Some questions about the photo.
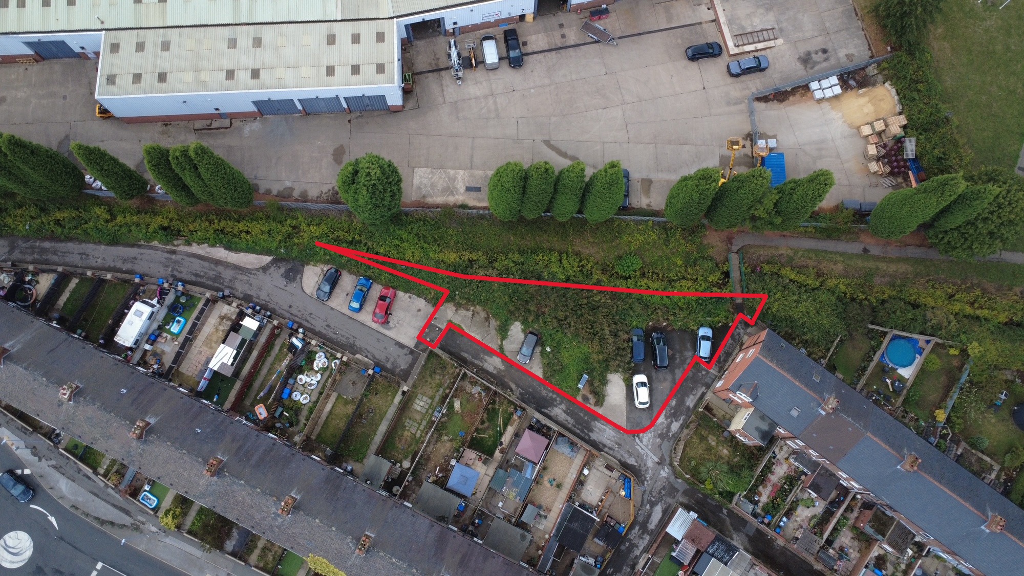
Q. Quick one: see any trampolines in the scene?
Yes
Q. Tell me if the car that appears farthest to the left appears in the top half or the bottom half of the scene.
bottom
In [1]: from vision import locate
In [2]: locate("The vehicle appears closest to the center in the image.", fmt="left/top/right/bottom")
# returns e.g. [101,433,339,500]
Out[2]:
[516,329,540,365]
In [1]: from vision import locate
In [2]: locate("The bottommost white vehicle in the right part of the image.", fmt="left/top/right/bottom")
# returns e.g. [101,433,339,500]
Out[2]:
[632,374,651,408]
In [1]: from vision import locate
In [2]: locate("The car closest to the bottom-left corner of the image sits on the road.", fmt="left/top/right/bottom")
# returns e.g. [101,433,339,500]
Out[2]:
[0,467,35,503]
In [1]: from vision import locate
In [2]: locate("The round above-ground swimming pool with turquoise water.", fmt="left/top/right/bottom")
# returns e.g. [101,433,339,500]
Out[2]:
[879,335,917,370]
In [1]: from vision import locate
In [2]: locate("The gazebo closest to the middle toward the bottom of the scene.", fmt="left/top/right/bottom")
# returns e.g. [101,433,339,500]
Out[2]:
[515,429,549,464]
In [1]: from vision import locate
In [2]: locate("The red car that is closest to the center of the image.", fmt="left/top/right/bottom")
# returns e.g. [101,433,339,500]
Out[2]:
[371,286,396,325]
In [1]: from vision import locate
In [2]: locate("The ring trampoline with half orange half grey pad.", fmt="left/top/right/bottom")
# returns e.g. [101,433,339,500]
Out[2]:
[7,282,40,307]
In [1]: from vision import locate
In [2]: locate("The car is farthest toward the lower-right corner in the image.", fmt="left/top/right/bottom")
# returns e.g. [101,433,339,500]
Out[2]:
[696,326,715,361]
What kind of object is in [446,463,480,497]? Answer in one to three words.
gazebo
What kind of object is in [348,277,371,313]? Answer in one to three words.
car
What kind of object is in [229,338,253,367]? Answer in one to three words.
greenhouse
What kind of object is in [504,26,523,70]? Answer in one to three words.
vehicle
